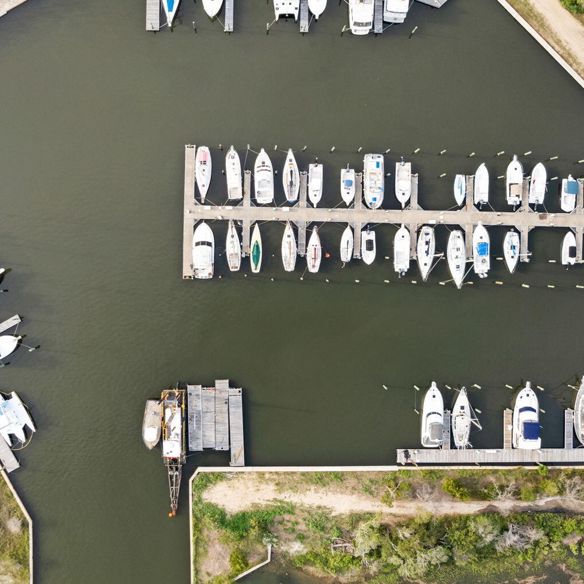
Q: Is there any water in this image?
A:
Yes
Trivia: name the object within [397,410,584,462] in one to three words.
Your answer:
pier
